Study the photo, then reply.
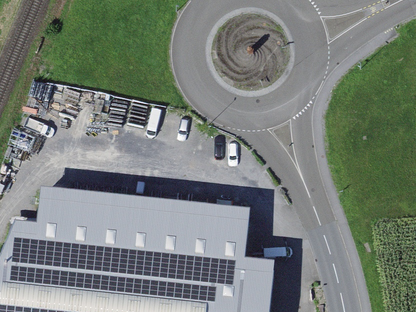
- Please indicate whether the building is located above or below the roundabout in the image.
below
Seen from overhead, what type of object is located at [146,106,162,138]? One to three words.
vehicle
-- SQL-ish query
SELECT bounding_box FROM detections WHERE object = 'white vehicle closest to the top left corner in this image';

[24,118,56,139]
